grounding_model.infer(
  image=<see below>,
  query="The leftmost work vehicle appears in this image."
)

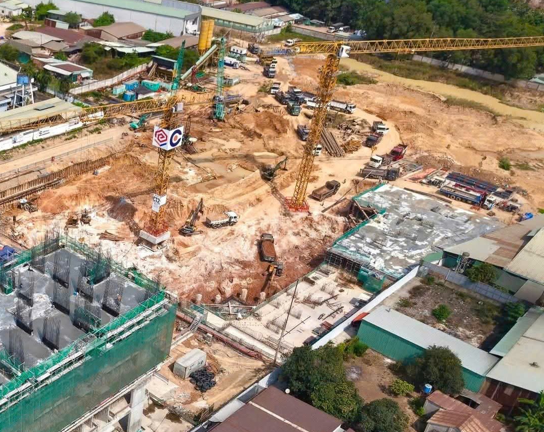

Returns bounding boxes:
[5,193,34,212]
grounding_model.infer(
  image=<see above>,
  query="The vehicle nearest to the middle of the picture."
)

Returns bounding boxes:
[260,231,278,257]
